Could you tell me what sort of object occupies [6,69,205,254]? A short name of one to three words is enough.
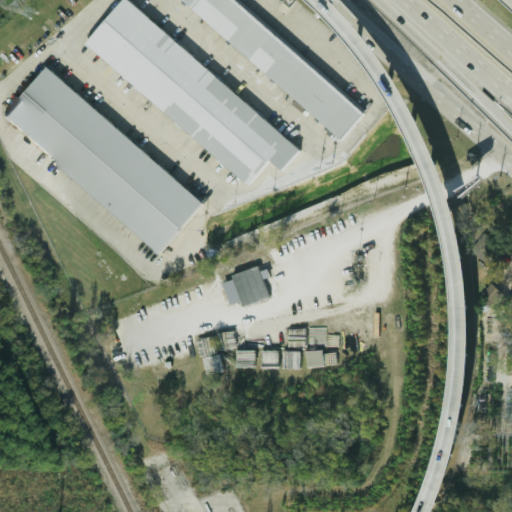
building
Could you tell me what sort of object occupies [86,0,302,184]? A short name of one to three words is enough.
building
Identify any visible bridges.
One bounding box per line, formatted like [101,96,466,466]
[304,0,466,512]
